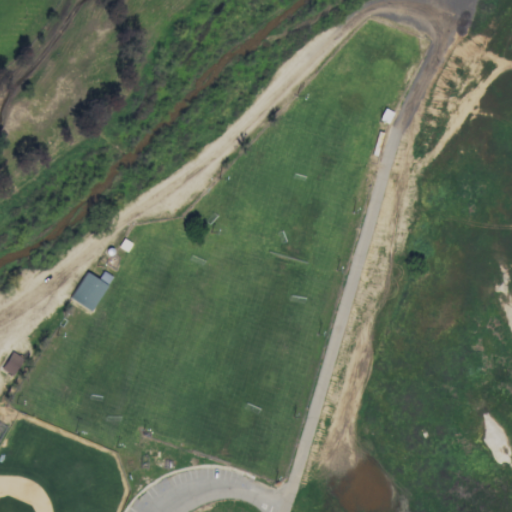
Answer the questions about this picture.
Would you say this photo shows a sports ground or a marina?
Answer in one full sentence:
The picture captures a sports ground.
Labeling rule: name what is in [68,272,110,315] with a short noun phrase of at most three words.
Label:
building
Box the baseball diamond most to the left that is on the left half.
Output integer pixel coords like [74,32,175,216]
[0,408,128,512]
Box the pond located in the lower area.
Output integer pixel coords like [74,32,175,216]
[337,454,394,512]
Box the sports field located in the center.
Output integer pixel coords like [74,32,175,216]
[13,24,422,480]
